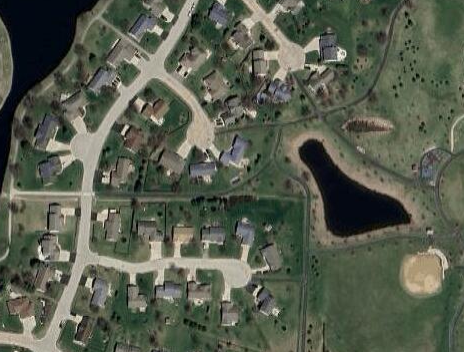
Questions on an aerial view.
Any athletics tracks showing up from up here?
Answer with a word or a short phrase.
No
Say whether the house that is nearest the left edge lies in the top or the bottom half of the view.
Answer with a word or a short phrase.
bottom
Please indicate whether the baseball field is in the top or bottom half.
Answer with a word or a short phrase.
bottom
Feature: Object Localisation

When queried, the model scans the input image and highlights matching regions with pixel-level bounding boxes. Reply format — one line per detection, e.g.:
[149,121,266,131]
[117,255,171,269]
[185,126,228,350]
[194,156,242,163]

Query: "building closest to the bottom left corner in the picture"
[7,295,35,321]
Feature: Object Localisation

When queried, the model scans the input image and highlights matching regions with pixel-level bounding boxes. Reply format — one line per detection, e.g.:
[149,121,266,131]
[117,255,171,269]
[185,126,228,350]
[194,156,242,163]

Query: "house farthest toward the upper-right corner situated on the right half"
[319,33,339,61]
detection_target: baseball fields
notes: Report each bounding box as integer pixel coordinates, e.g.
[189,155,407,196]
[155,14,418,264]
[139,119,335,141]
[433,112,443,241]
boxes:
[401,248,448,295]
